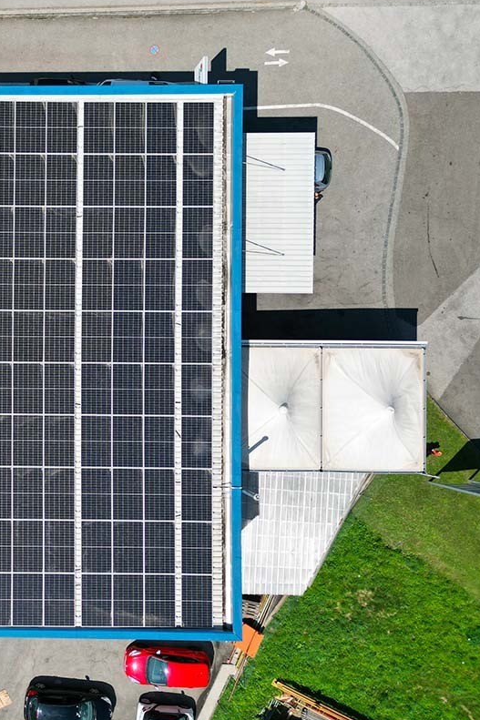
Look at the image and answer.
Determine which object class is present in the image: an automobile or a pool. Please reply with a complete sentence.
It is an automobile that can be seen here.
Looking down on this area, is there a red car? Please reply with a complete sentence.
Yes, there's a red car here.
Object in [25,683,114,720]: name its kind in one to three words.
car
